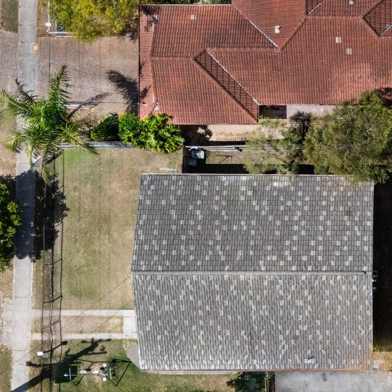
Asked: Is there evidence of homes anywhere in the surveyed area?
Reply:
Yes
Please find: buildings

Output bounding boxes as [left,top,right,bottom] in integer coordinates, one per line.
[131,171,376,372]
[137,0,392,126]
